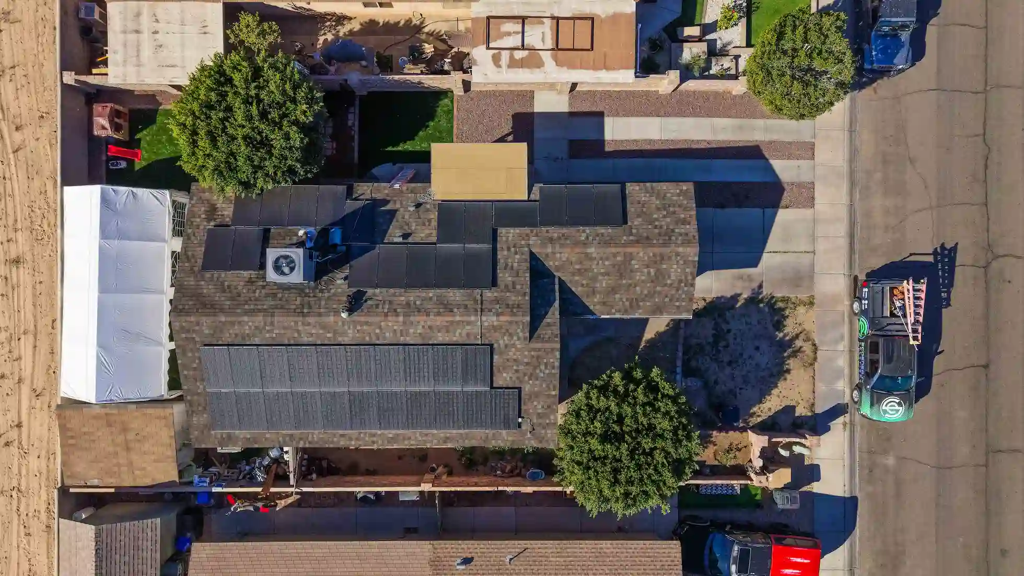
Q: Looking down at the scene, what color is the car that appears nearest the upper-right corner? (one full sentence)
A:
The color of the car that appears nearest the upper-right corner is blue.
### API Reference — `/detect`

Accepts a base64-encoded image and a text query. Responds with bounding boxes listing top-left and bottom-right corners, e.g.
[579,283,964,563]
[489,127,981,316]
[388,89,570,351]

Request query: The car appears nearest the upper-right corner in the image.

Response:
[854,0,916,73]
